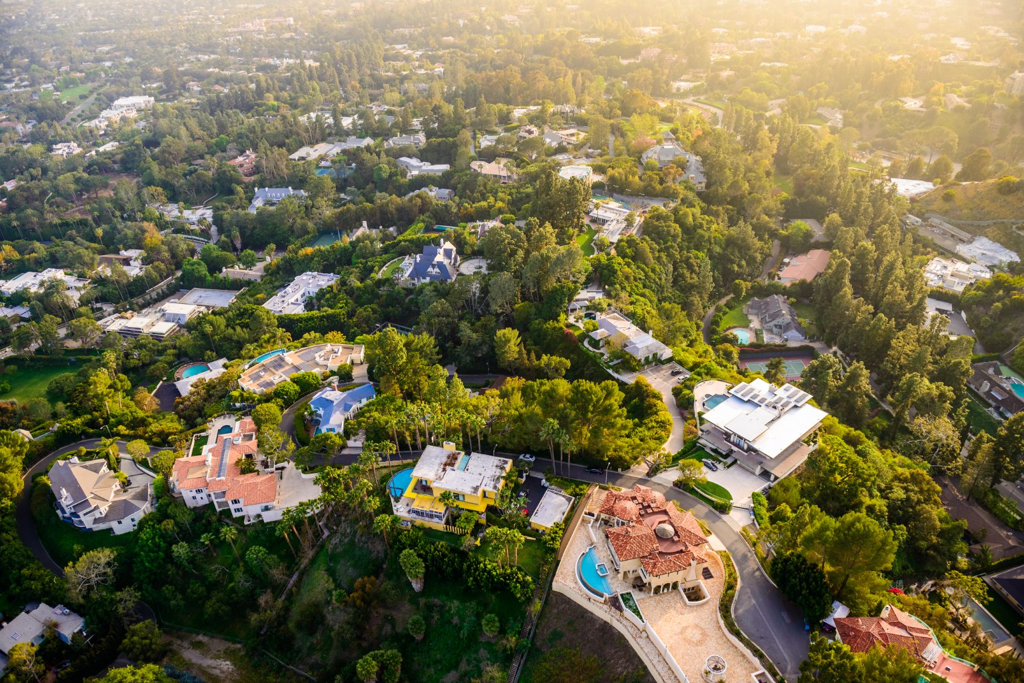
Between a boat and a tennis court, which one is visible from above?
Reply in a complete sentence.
There is a tennis court in the scene.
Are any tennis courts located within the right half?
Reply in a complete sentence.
Yes, a tennis court appears within the right half.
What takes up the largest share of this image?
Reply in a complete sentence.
For the most part, this view shows trees.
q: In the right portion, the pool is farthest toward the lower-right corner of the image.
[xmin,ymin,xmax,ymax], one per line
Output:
[965,607,1011,647]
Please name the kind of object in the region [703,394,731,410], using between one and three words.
swimming pool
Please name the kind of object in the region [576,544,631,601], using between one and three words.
swimming pool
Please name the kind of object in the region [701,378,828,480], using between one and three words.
house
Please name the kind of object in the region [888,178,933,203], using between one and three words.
house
